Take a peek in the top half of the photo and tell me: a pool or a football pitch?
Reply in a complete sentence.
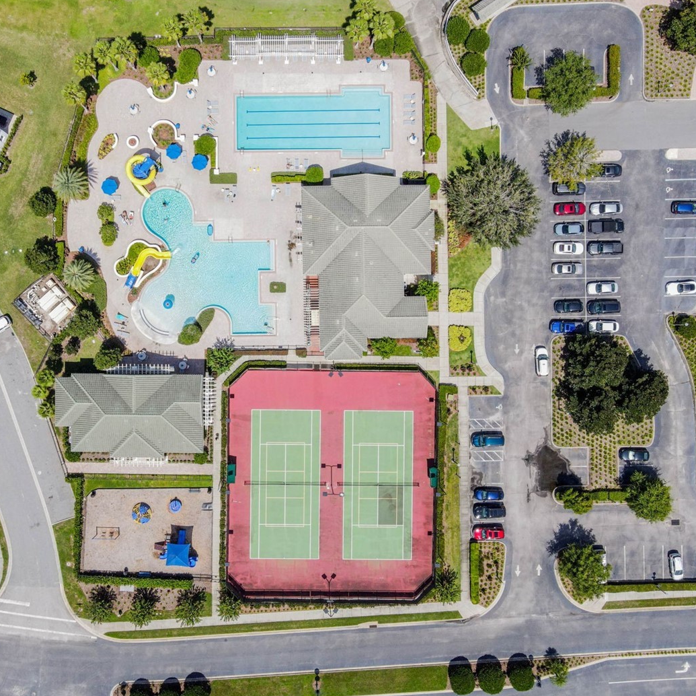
There is a pool in the top half of the photo.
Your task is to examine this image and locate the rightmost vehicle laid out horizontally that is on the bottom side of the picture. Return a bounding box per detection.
[617,448,649,462]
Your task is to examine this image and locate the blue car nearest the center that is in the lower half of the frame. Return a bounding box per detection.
[472,432,503,447]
